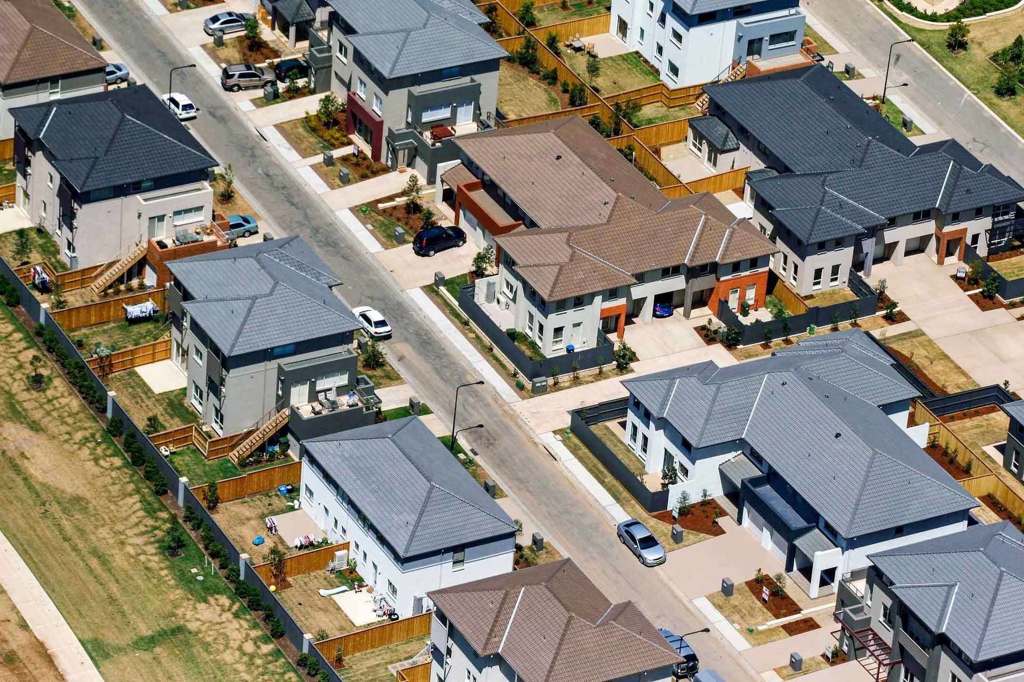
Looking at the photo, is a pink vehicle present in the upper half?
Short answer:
No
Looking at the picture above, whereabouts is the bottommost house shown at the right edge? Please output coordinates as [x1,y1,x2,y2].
[824,518,1024,682]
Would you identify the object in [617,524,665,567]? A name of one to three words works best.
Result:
car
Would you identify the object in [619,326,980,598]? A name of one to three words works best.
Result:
house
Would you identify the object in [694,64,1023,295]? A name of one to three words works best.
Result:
house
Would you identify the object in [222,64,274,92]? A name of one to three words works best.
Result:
car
